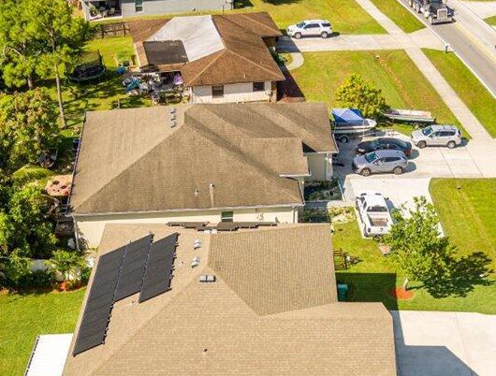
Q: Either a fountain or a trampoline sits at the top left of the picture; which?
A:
trampoline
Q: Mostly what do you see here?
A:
buildings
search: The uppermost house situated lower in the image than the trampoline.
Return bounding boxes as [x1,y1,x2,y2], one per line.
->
[70,103,342,247]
